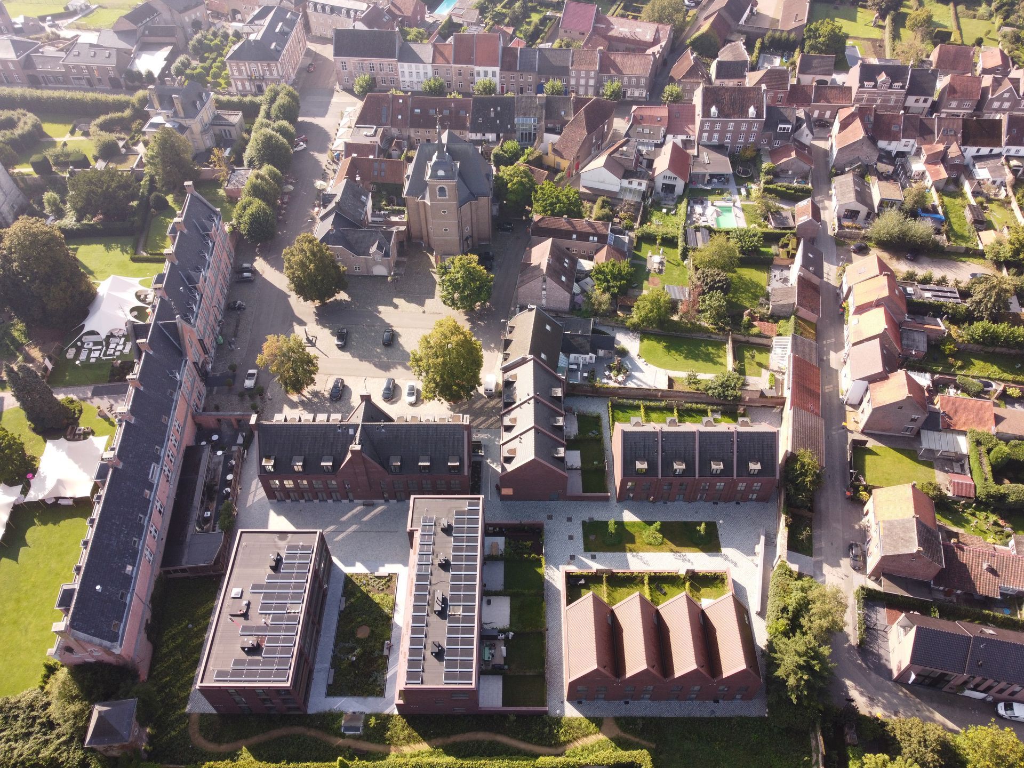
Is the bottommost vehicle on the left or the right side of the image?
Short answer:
right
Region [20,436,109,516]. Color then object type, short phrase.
white tent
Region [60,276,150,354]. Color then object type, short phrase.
white tent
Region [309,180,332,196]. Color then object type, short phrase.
white umbrella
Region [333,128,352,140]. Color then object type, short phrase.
white umbrella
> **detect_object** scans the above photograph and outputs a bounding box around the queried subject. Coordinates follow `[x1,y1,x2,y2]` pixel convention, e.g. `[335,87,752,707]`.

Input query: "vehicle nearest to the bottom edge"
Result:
[991,699,1024,721]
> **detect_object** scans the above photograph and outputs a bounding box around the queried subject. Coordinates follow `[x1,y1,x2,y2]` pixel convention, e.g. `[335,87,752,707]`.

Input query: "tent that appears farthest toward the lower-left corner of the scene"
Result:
[0,484,32,554]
